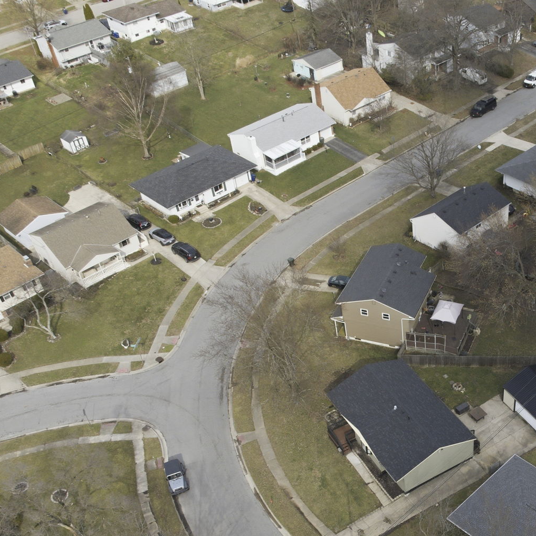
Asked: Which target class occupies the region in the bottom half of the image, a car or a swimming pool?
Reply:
car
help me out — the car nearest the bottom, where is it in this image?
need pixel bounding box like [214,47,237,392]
[164,454,190,494]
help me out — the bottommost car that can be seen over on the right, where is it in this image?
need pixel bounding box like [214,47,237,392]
[326,275,352,289]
